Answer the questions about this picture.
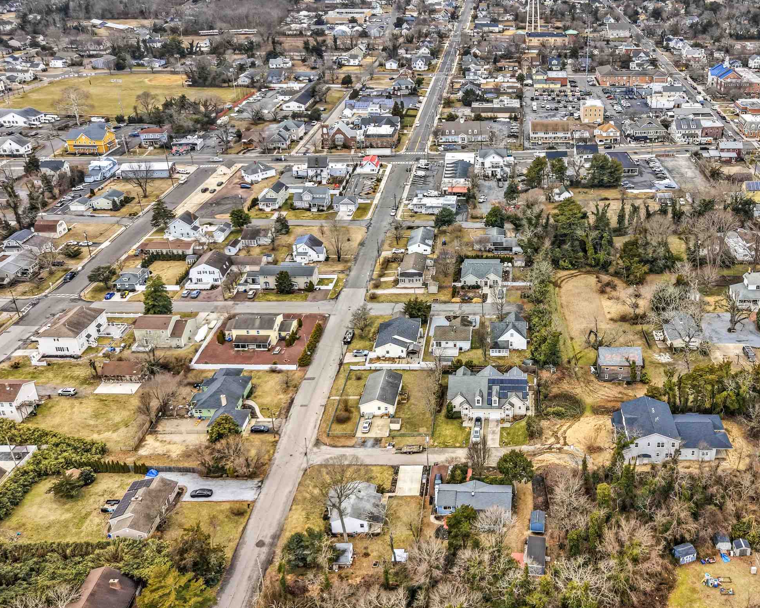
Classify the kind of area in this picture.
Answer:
residential area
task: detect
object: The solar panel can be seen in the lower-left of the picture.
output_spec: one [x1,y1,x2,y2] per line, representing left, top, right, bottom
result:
[121,479,155,512]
